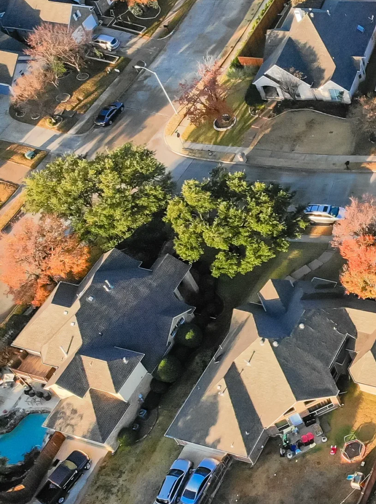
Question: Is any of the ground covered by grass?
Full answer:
Yes, some grass is visible.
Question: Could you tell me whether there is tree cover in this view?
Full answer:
Yes, the picture does contain tree cover.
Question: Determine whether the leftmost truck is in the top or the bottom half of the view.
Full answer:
Seen from above, the leftmost truck lies in the bottom half of the view.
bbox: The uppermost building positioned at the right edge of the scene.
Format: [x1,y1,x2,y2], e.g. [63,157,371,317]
[249,0,376,107]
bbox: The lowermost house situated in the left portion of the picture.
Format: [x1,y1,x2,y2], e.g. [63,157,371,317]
[12,247,225,456]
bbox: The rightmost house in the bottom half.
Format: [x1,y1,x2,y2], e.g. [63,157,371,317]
[146,273,376,467]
